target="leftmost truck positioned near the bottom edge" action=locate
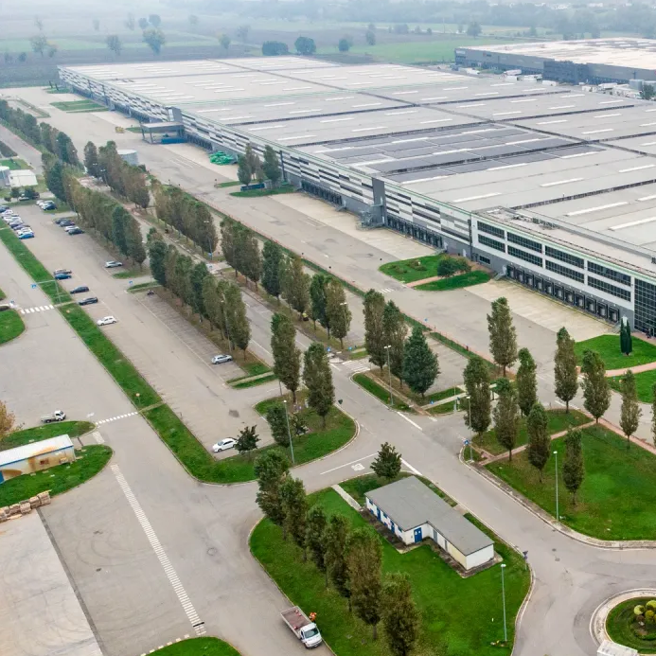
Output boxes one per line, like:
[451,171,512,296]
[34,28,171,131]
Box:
[283,605,316,639]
